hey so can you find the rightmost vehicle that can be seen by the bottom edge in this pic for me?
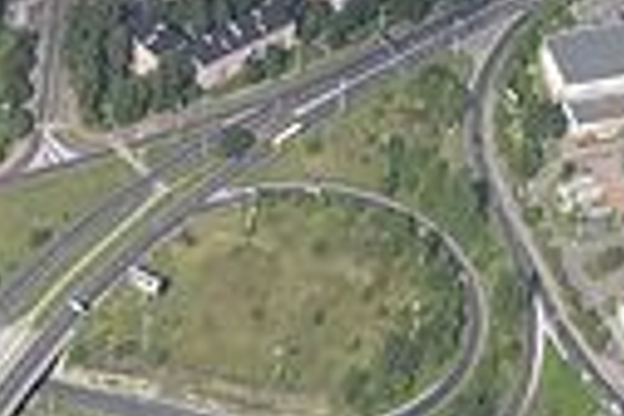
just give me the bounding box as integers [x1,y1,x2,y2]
[607,399,623,416]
